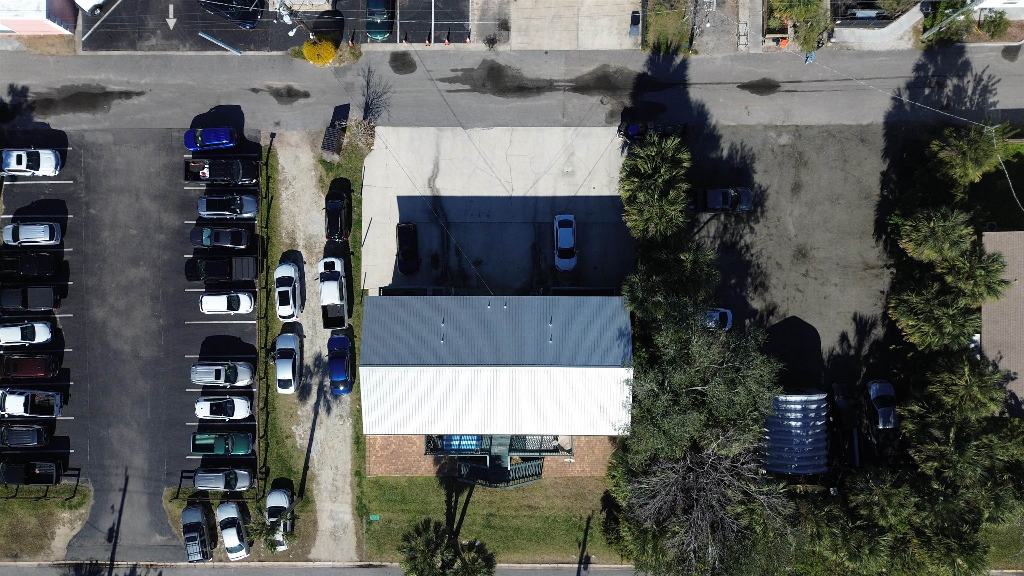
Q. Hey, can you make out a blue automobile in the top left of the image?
Yes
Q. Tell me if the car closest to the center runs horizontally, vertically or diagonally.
vertically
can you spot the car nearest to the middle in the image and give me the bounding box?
[552,214,580,272]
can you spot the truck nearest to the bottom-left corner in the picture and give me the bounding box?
[0,459,66,489]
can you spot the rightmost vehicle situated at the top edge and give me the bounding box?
[364,0,392,43]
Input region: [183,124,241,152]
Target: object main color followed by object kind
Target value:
blue car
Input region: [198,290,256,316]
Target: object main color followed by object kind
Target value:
white car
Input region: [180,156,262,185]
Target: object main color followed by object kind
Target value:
black truck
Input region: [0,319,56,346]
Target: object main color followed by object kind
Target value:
white car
